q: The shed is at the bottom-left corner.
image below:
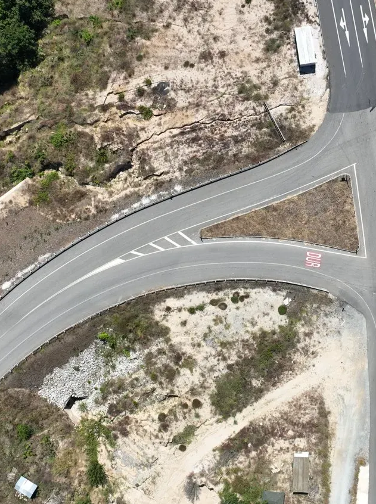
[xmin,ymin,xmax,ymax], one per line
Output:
[15,476,39,498]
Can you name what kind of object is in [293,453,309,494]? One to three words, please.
shed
